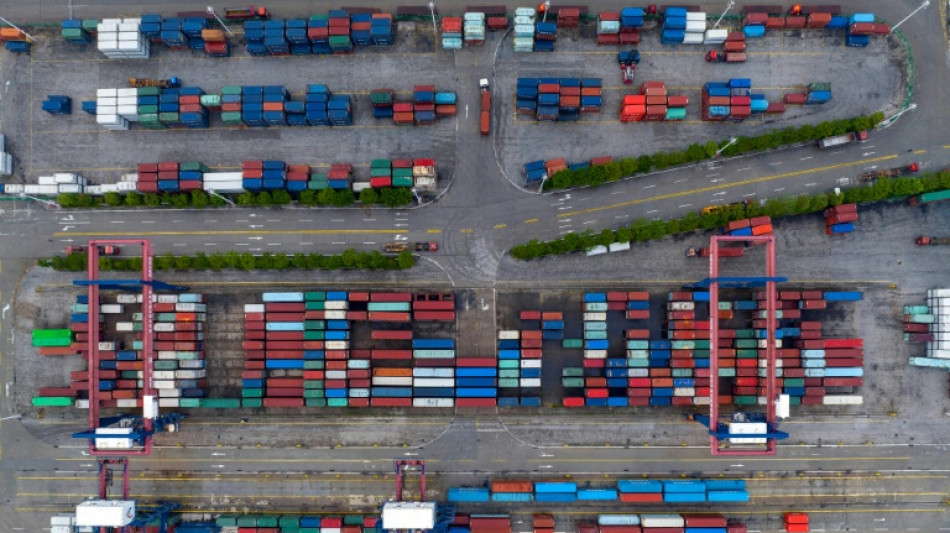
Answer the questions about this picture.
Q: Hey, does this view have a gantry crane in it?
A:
Yes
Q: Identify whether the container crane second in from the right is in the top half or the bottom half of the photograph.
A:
bottom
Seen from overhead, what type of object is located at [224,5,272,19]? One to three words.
vehicle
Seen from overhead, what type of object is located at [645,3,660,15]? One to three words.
vehicle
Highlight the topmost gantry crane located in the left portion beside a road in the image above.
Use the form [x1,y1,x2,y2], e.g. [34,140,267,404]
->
[72,237,196,457]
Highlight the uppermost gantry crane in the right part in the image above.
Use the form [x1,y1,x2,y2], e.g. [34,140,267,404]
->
[675,234,791,457]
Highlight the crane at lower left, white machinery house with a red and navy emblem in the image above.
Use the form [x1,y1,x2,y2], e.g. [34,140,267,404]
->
[76,454,191,533]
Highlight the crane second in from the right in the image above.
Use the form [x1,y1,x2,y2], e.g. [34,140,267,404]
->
[383,454,469,533]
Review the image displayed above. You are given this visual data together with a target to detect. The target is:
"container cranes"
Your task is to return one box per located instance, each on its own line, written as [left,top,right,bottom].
[383,454,469,533]
[675,234,791,457]
[76,454,191,533]
[72,237,196,457]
